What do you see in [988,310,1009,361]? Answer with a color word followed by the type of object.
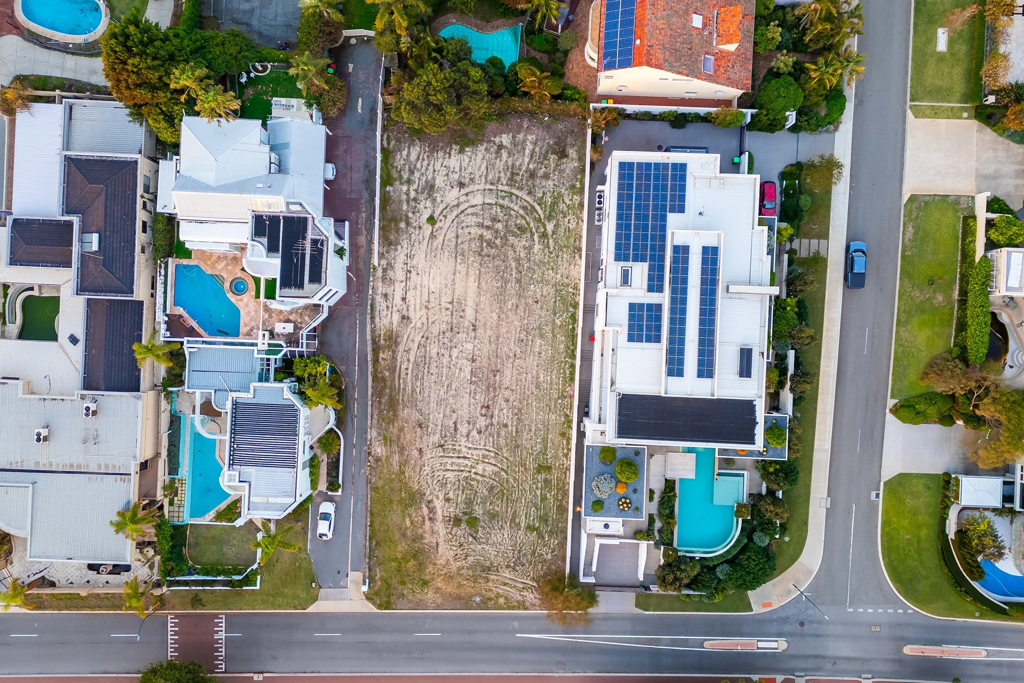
black swimming pool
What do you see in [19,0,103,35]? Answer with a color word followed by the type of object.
blue swimming pool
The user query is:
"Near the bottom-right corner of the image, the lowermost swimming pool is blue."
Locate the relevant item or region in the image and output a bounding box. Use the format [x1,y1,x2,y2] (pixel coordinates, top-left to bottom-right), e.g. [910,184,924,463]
[971,555,1024,601]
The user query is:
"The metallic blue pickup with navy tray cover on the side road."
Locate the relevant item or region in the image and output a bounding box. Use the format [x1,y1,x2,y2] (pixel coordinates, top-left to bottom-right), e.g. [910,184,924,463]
[843,242,867,288]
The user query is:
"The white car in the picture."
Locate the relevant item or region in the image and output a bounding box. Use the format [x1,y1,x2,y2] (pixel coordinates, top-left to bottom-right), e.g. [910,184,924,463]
[316,501,337,539]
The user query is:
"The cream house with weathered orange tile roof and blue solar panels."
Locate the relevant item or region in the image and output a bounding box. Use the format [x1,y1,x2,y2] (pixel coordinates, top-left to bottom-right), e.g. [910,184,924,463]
[580,0,755,99]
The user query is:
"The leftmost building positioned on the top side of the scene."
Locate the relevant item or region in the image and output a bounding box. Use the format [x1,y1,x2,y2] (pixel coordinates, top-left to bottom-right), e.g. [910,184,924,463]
[0,99,163,396]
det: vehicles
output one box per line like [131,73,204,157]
[843,242,867,288]
[757,182,777,217]
[316,501,337,539]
